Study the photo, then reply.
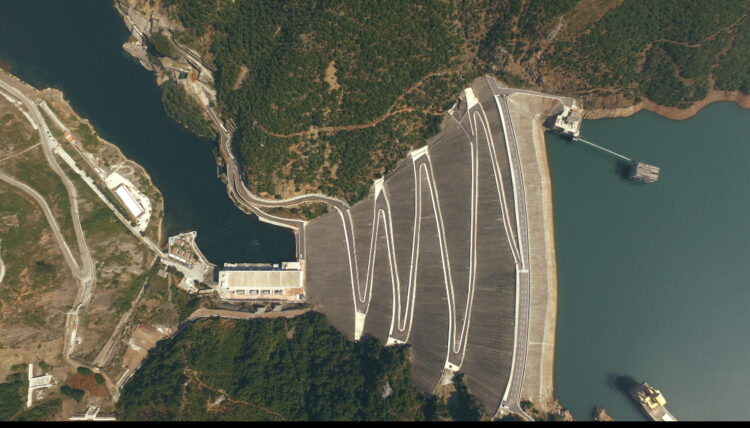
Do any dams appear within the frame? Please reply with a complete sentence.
Yes, a dam can be made out from above.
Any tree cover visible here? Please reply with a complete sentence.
Yes, tree cover can be seen from above here.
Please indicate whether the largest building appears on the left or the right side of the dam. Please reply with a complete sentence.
Relative to the dam, the largest building is on the left.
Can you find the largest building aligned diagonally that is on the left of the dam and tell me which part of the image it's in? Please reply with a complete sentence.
The largest building aligned diagonally that is on the left of the dam is in the left part of the image.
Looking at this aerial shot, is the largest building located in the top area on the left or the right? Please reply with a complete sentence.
The largest building located in the top area appears in the right half of the scene.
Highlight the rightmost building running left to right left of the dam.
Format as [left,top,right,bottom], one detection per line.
[218,262,305,301]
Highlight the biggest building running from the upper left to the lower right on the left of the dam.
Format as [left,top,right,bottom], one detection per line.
[114,185,146,217]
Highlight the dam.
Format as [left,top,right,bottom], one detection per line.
[305,75,561,419]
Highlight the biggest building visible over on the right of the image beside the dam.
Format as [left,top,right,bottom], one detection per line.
[548,104,583,139]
